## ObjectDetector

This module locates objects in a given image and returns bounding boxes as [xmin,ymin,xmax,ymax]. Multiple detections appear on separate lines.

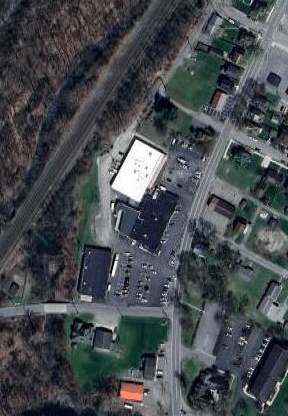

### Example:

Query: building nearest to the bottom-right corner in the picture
[245,341,288,400]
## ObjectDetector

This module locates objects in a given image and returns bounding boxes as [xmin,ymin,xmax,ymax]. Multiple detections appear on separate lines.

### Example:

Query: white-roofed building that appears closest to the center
[112,139,168,202]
